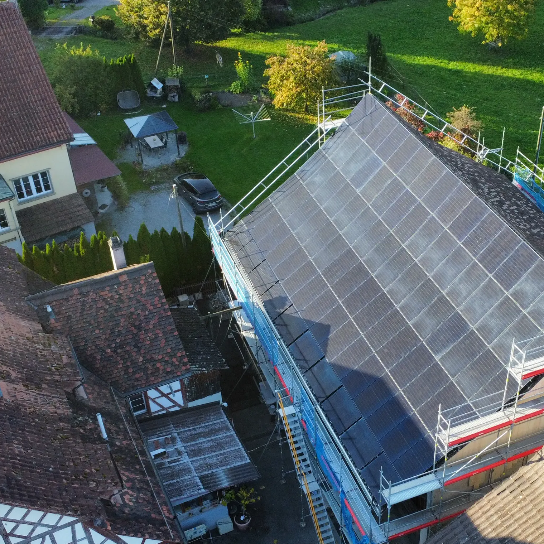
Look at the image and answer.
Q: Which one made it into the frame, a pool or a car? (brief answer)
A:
car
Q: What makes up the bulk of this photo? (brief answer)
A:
buildings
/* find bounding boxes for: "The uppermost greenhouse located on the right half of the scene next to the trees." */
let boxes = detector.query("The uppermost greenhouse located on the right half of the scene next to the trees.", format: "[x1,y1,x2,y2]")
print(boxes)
[330,48,359,83]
